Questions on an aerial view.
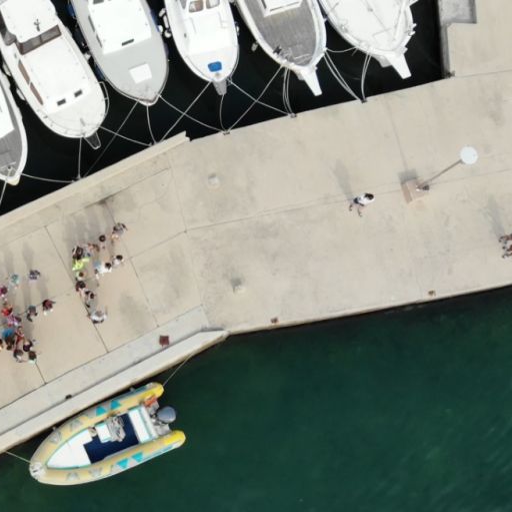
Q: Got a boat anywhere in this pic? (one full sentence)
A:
Yes, this view includes a boat.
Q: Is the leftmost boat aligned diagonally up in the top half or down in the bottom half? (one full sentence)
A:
You can find the leftmost boat aligned diagonally in the top half.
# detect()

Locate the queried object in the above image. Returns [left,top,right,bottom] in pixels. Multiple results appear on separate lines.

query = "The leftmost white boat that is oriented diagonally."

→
[0,0,105,145]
